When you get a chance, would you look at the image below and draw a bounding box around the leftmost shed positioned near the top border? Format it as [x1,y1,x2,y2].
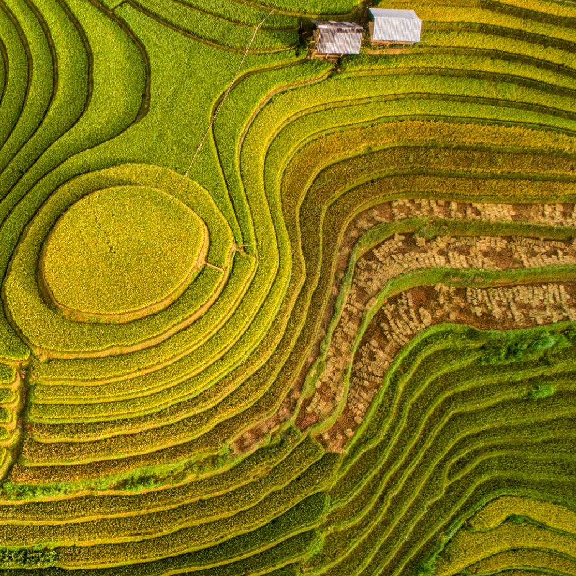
[306,21,362,62]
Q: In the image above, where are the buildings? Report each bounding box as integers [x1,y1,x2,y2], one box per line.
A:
[306,21,362,62]
[359,9,423,52]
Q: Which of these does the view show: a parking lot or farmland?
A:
farmland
